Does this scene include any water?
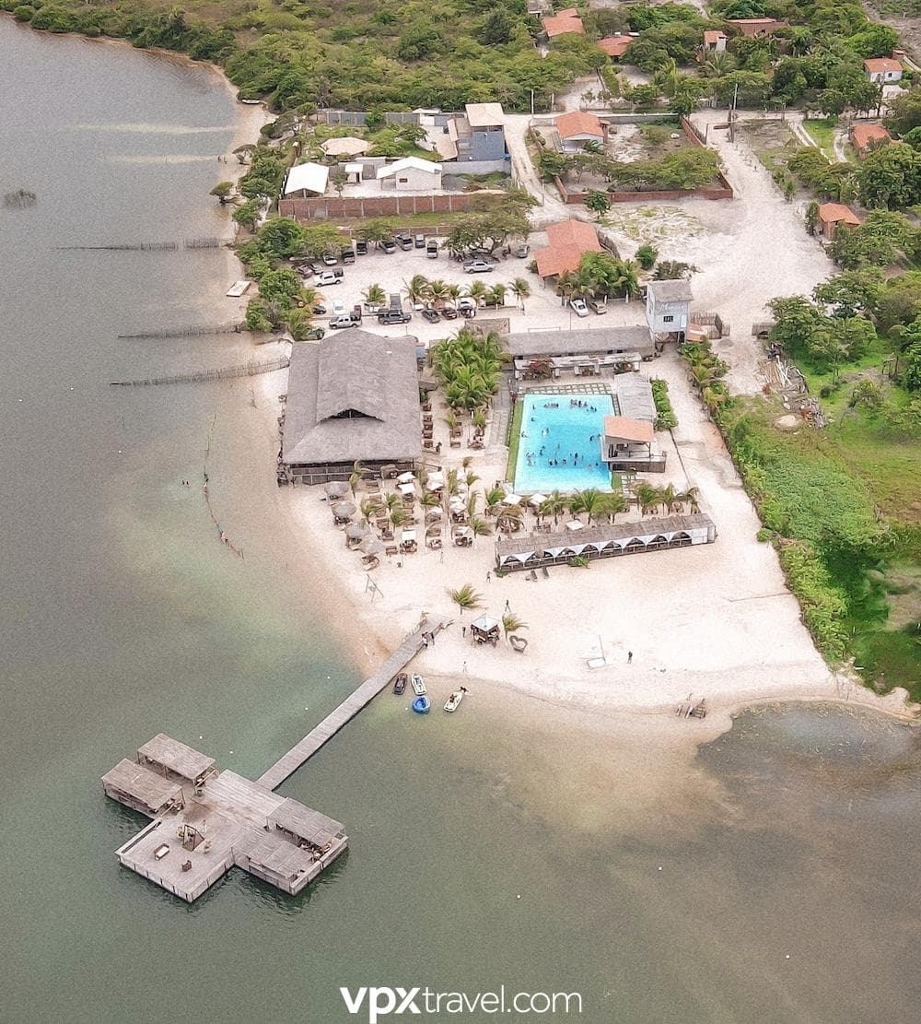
Yes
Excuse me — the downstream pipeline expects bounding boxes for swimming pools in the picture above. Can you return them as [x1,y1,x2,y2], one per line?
[510,392,618,499]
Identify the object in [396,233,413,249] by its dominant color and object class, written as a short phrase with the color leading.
gray car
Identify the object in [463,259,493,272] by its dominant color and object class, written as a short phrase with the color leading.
white vehicle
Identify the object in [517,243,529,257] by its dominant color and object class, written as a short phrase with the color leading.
gray vehicle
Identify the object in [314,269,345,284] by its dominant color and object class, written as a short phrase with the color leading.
white vehicle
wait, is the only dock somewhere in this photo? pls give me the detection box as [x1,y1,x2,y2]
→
[258,612,469,794]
